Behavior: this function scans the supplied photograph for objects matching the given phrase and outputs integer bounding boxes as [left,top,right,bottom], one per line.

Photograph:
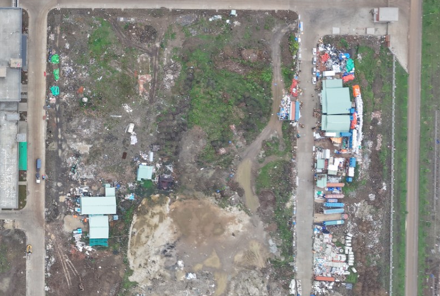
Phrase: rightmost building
[371,7,399,23]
